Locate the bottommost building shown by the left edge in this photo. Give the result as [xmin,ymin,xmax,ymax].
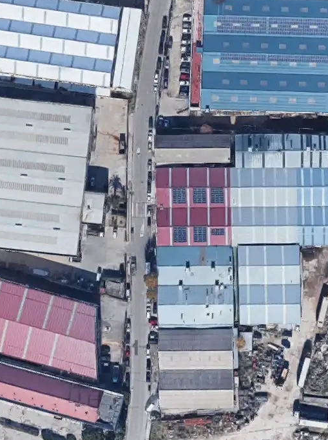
[0,362,104,424]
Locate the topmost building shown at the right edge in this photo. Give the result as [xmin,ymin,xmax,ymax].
[201,0,328,115]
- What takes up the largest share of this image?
buildings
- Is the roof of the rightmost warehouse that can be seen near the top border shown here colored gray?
No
